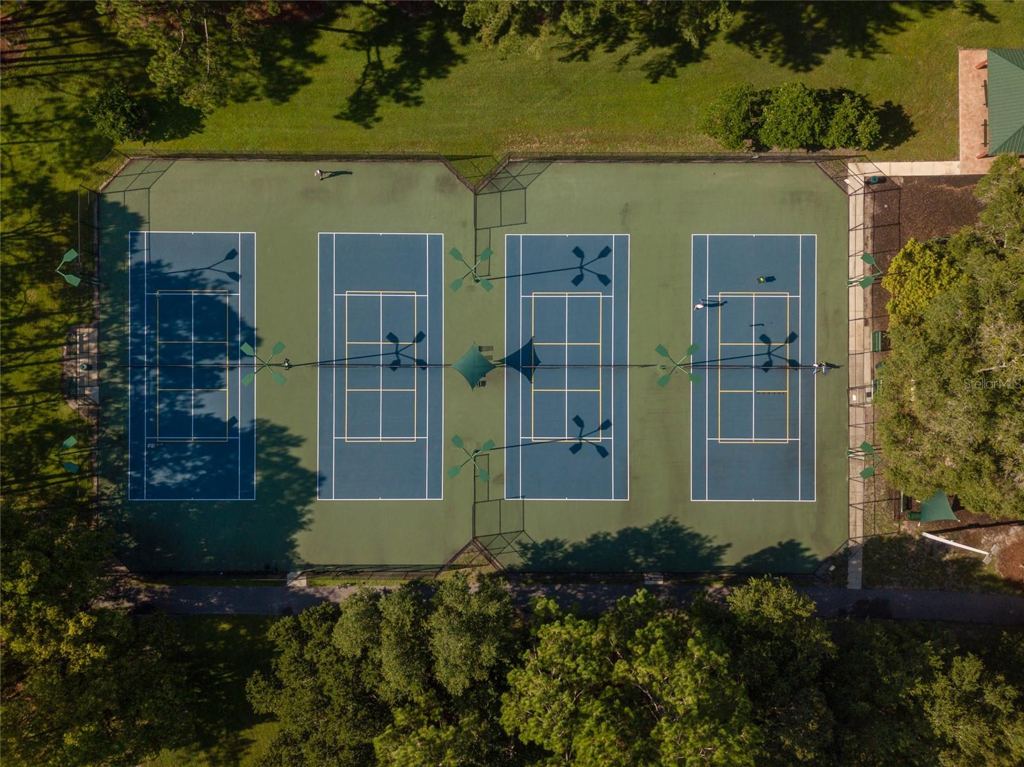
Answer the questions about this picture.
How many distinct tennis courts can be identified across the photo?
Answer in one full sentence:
There are 4 tennis courts in the image.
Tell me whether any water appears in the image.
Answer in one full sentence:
No, there is no water in the image.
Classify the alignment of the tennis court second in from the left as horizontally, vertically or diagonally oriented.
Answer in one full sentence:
Seen from above, the tennis court second in from the left lies vertically.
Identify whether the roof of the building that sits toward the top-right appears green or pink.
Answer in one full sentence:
From above, the roof of the building that sits toward the top-right appears green.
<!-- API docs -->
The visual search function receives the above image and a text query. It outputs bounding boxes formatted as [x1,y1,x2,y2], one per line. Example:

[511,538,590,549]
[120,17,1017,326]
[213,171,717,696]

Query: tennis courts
[692,235,816,501]
[129,232,255,500]
[319,233,443,499]
[506,235,629,500]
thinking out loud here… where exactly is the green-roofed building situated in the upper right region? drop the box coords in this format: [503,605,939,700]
[975,48,1024,160]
